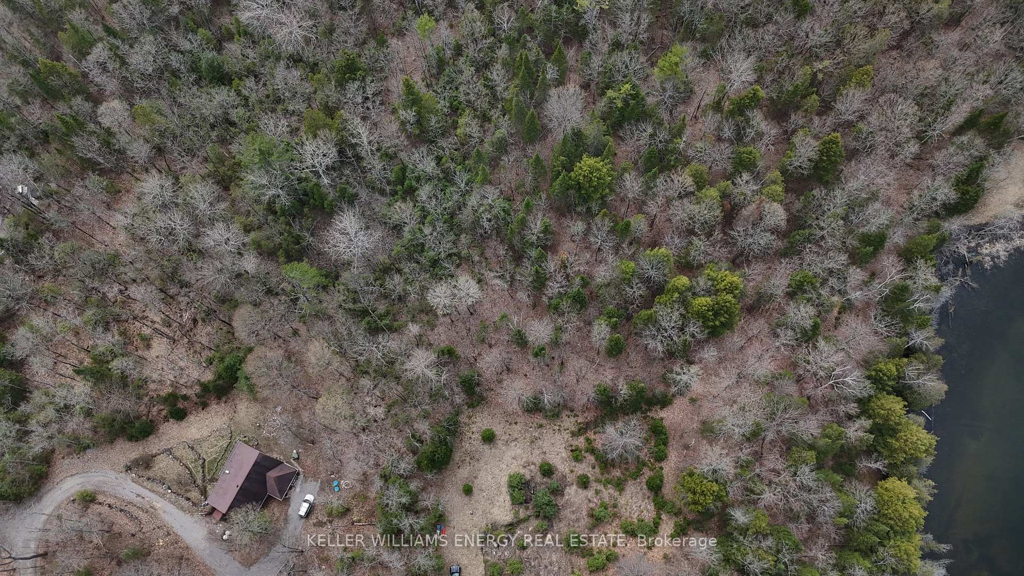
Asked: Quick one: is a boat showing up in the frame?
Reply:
No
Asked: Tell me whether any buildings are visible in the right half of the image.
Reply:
No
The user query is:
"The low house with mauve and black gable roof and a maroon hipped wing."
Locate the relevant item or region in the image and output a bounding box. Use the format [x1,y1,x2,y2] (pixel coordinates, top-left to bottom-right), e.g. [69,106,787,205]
[205,441,300,527]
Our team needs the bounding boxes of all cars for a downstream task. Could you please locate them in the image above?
[294,493,316,521]
[449,562,461,576]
